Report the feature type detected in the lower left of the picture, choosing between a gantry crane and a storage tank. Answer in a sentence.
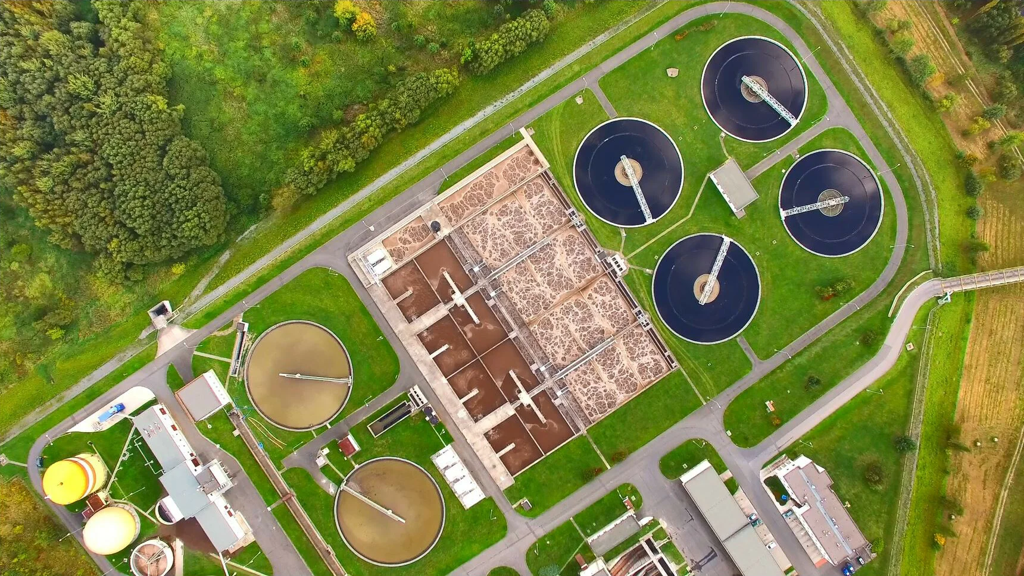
The feature located in the lower left of the picture is a storage tank.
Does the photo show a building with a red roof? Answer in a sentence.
Yes, looking at the shot, I can spot a building with a red roof.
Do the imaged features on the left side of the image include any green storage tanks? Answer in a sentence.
No, the scene shows no green storage tank on the left side of the image.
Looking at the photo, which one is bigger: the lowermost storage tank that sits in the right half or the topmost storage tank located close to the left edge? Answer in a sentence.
The lowermost storage tank that sits in the right half is bigger than the topmost storage tank located close to the left edge.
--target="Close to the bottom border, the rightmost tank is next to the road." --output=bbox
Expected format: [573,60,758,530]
[333,457,445,569]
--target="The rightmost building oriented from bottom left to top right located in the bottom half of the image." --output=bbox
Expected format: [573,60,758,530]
[587,512,641,557]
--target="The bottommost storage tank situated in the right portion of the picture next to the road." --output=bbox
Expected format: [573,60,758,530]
[652,233,763,344]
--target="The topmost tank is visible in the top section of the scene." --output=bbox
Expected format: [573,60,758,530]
[701,34,809,142]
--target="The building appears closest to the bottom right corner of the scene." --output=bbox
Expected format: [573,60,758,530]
[777,454,866,566]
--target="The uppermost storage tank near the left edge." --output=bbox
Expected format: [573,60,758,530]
[42,451,108,506]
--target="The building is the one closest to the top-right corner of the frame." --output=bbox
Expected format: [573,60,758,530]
[708,158,759,212]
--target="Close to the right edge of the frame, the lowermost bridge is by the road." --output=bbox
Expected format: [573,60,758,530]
[943,265,1024,295]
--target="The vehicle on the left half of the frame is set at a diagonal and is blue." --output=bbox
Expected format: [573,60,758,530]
[97,403,126,422]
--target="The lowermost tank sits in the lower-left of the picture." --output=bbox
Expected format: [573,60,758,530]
[128,540,173,576]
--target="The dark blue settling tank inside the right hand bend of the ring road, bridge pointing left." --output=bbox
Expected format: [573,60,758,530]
[778,149,886,256]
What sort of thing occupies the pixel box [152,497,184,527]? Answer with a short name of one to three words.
storage tank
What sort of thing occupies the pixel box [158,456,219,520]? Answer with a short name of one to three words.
building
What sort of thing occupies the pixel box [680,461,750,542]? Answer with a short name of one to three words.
building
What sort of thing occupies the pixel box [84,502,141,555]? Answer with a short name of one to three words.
storage tank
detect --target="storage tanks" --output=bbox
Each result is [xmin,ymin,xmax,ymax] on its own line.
[84,502,141,555]
[243,322,353,431]
[128,540,173,576]
[701,34,809,142]
[778,149,886,256]
[652,233,763,344]
[152,497,184,527]
[574,116,685,227]
[333,457,445,569]
[42,451,108,506]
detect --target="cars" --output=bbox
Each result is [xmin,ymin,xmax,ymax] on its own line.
[783,510,793,517]
[747,514,757,522]
[36,456,43,467]
[856,556,865,567]
[751,519,762,527]
[842,567,850,576]
[847,563,855,574]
